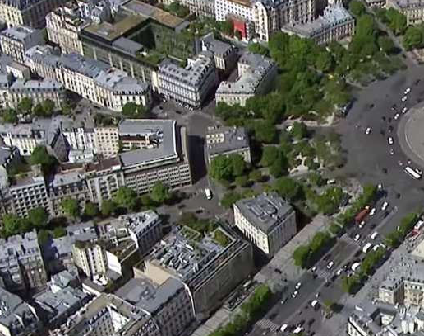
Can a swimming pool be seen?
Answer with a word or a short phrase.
No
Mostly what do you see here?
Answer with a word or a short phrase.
buildings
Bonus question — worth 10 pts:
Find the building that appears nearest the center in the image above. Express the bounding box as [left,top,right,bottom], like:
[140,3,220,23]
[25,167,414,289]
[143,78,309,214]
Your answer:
[205,125,252,178]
